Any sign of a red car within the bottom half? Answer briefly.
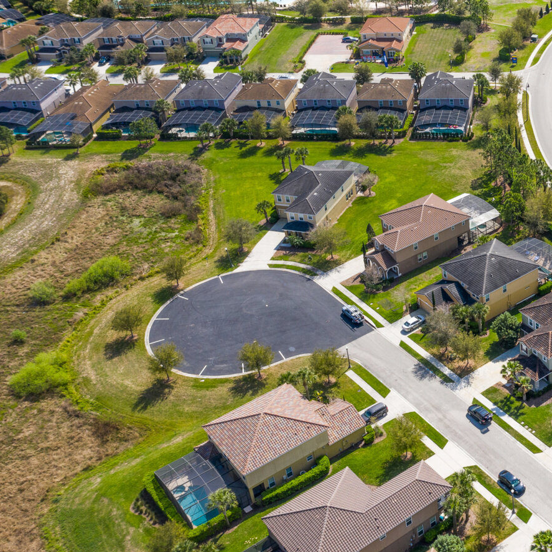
No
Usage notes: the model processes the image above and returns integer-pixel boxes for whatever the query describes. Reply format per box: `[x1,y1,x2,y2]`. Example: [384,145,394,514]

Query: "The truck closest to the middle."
[341,303,366,324]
